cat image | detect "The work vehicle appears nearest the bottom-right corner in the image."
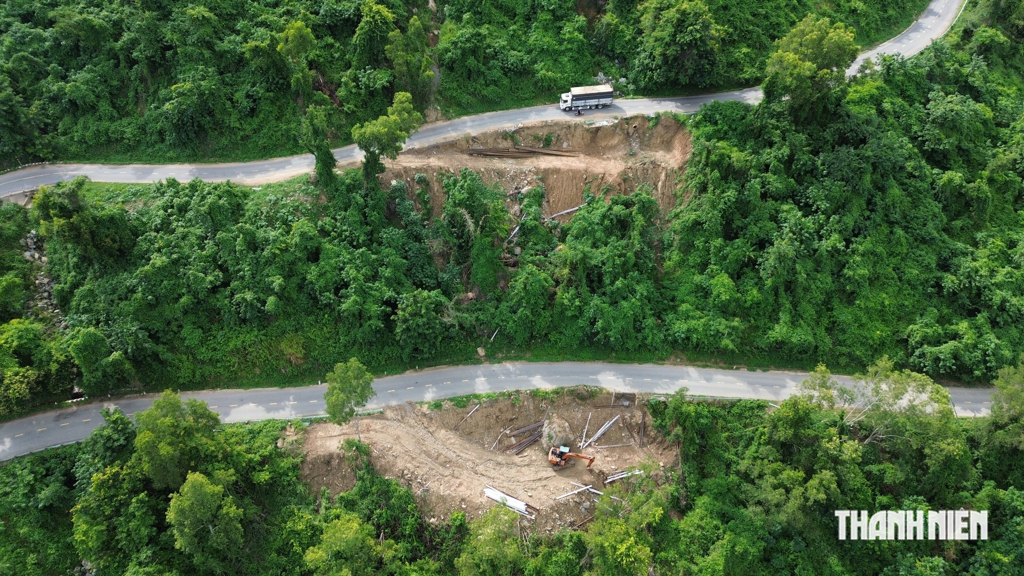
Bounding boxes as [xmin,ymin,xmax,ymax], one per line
[550,448,598,472]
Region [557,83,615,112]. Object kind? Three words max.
truck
